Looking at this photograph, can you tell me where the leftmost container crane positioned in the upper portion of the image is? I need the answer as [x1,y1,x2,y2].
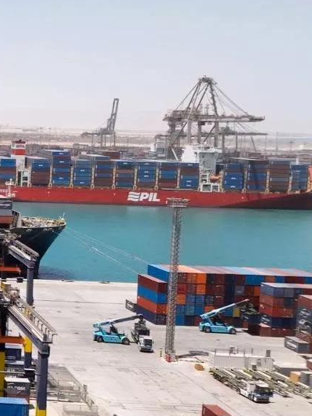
[82,103,118,153]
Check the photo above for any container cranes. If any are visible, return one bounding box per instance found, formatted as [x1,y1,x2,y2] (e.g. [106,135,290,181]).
[167,99,262,164]
[0,232,42,390]
[163,78,271,164]
[82,103,118,153]
[0,285,60,416]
